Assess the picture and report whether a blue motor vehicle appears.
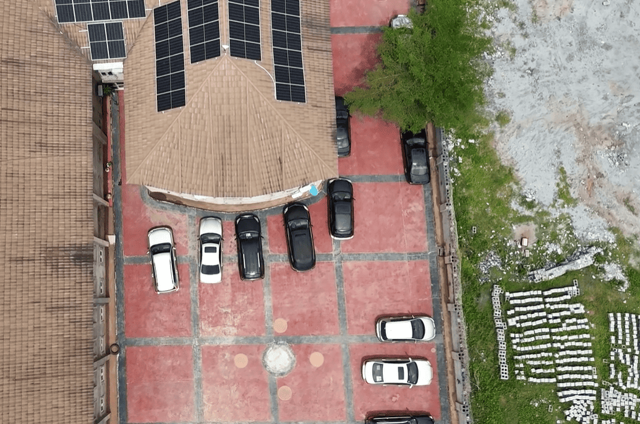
No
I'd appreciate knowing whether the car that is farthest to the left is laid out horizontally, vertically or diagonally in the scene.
vertically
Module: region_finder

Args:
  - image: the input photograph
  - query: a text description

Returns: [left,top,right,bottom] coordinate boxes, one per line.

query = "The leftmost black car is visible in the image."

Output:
[234,213,266,280]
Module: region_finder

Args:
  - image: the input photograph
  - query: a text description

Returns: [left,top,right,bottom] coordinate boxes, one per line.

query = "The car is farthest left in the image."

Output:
[148,227,179,294]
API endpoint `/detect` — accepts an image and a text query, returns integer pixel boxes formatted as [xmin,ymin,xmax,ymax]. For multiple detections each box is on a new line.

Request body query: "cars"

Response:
[336,96,355,157]
[283,203,317,272]
[398,120,432,184]
[375,314,435,346]
[234,213,266,280]
[361,357,432,390]
[148,227,179,294]
[364,414,435,424]
[326,177,357,240]
[195,217,226,284]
